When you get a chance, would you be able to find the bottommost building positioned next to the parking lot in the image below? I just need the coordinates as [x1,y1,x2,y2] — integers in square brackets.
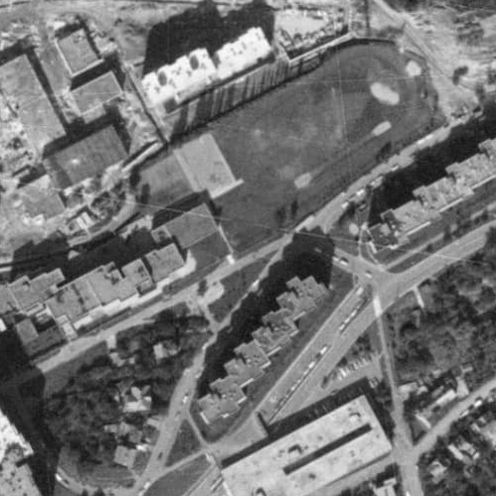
[222,395,392,496]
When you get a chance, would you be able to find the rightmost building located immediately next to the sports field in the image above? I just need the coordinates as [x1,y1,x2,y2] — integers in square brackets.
[369,138,496,250]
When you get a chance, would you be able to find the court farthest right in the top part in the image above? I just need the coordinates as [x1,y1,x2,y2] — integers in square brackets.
[174,133,236,195]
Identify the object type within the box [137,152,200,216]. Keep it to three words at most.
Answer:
sports court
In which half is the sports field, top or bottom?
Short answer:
top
